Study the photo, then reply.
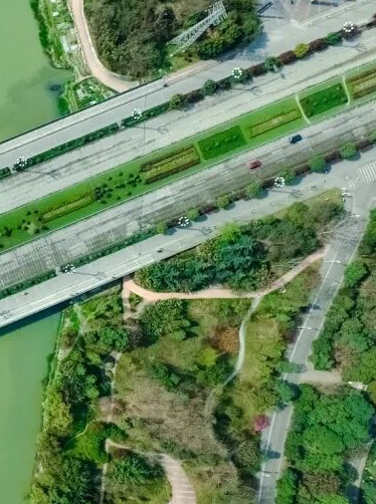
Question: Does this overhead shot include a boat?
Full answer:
No, I can't see a single boat in this photo.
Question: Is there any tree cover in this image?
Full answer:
Yes, tree cover can be seen from above here.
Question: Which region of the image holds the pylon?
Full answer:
The pylon is located in the top region of the scene.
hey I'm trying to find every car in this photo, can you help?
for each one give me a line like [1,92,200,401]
[288,134,301,143]
[249,161,262,169]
